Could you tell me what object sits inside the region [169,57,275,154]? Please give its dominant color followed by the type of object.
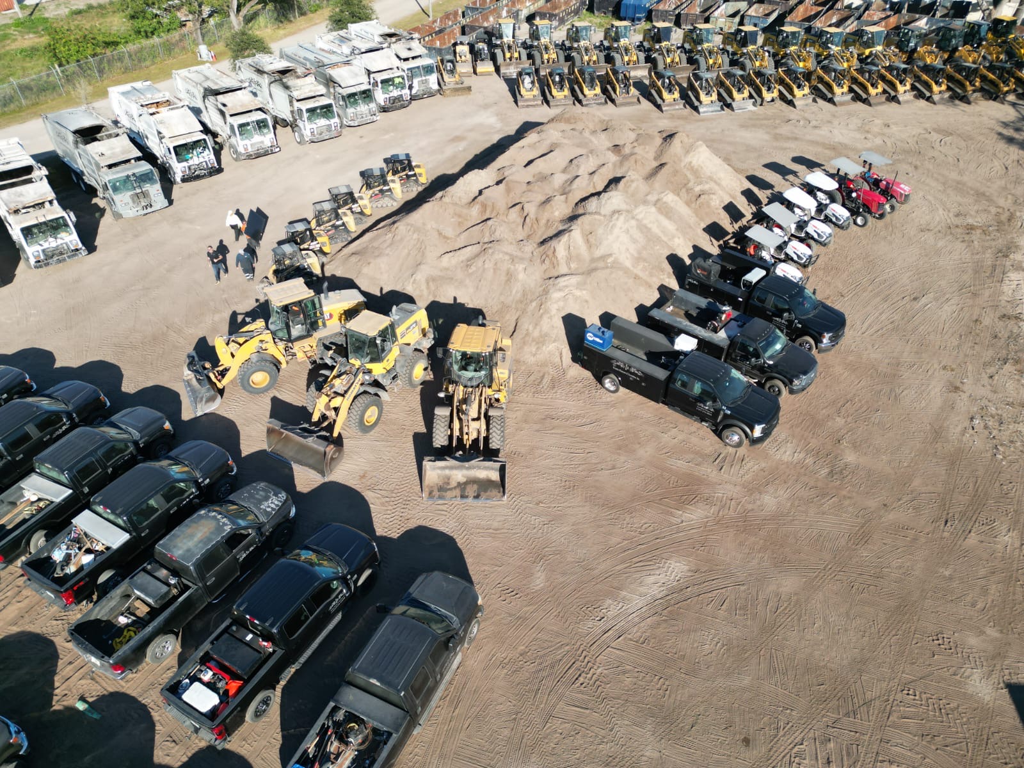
white truck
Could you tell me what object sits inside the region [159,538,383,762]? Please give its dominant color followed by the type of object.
black truck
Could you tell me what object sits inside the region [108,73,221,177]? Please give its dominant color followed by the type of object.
white truck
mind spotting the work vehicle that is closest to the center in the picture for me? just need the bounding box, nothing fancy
[422,311,509,502]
